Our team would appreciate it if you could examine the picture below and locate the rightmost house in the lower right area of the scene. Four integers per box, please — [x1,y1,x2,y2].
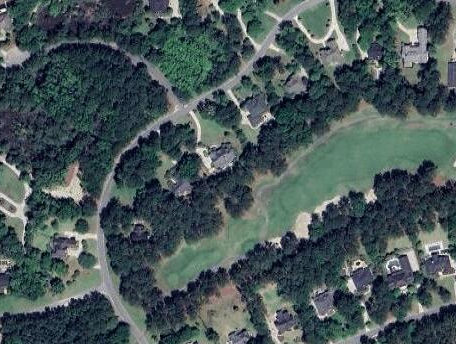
[426,255,453,281]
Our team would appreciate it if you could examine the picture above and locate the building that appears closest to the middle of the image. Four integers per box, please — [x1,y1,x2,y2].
[206,144,237,172]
